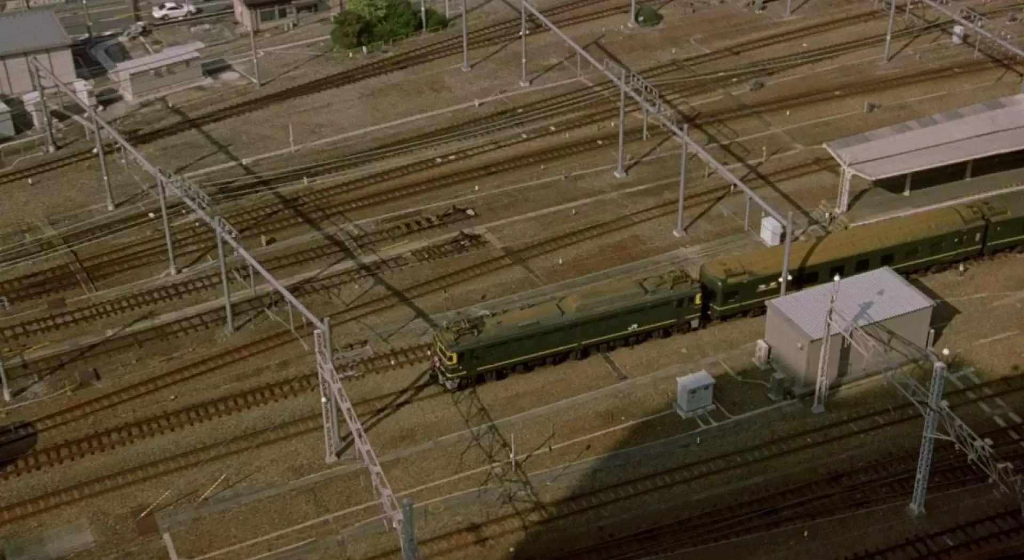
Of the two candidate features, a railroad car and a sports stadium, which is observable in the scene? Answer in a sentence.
Looking from above, you can make out a railroad car.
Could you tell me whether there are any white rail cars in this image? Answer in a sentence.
No, there is no white rail car in the image.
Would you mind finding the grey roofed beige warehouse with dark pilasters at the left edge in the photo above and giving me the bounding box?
[0,9,77,97]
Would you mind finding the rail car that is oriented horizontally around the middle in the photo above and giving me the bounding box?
[429,267,701,388]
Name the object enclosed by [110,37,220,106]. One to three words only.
building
